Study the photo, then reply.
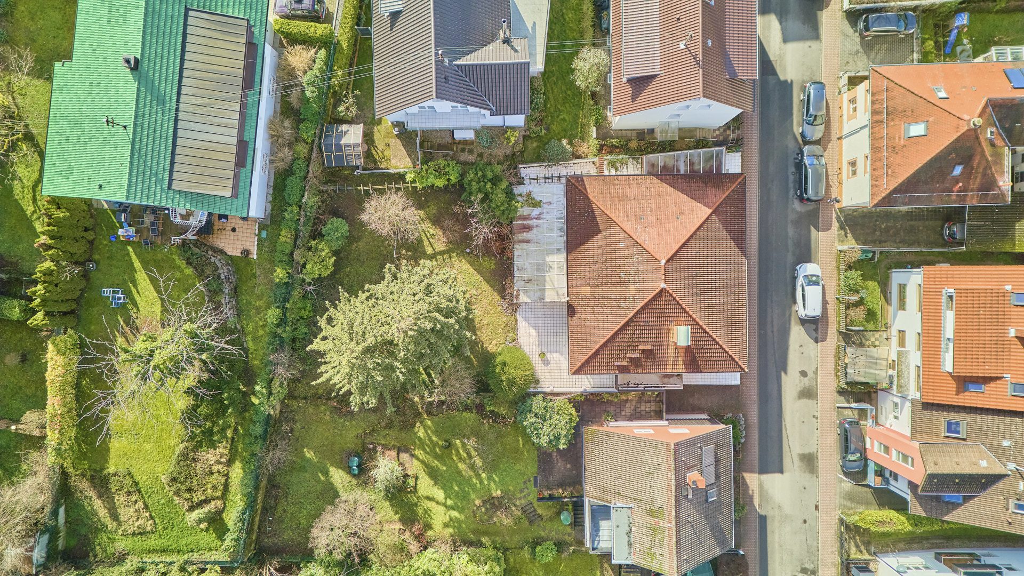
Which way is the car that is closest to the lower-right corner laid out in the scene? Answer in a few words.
vertically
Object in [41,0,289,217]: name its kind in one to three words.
house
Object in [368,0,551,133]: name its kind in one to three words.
house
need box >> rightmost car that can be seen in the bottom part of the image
[836,417,867,473]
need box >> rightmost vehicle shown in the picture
[937,222,964,242]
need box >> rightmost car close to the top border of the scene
[857,11,915,41]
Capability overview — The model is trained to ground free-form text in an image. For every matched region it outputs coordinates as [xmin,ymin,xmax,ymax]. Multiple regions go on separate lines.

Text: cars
[937,222,964,242]
[794,263,824,319]
[836,417,867,473]
[798,146,828,204]
[799,83,829,142]
[285,0,327,19]
[857,11,915,41]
